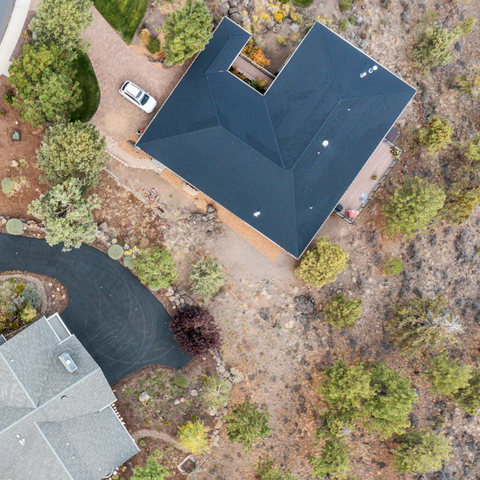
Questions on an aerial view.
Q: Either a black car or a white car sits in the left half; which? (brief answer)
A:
white car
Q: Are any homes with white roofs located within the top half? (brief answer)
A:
No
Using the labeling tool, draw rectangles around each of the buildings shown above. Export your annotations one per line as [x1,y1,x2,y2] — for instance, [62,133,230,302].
[0,313,141,480]
[135,16,418,260]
